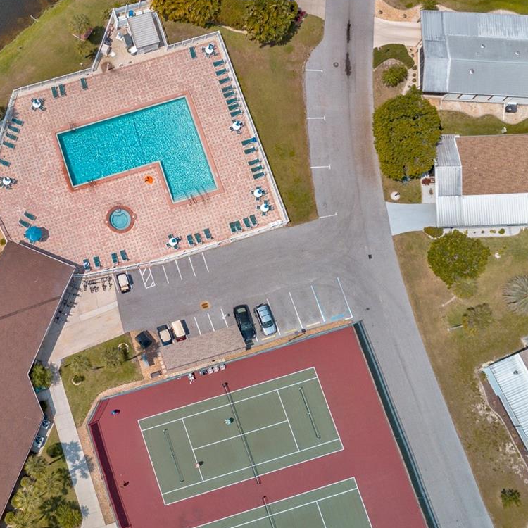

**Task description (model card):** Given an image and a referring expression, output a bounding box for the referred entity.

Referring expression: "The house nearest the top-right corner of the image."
[418,10,528,103]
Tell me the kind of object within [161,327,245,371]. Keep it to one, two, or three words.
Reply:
building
